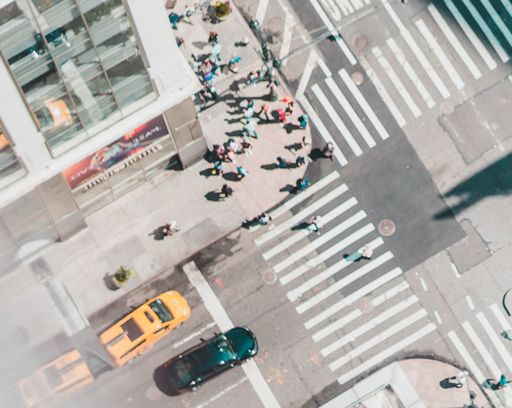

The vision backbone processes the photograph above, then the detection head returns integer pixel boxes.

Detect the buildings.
[0,0,210,272]
[319,361,425,408]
